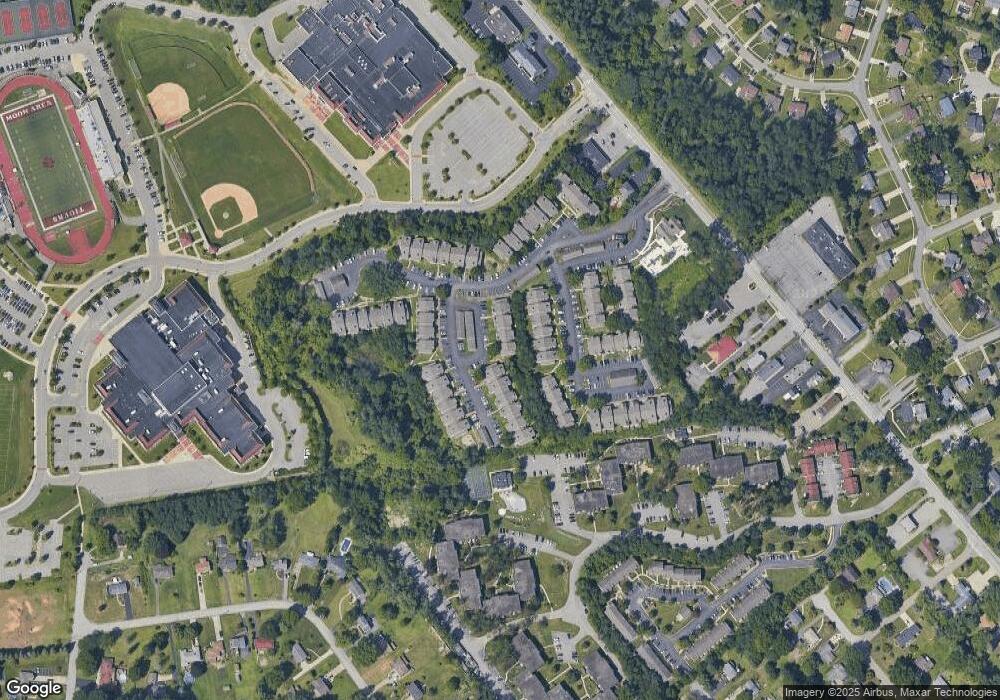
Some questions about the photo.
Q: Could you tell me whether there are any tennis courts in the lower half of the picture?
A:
Yes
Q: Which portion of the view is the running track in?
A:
top left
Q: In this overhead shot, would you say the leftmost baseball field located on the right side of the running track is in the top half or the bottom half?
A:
top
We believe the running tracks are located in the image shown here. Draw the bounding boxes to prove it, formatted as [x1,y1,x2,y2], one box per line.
[0,76,114,263]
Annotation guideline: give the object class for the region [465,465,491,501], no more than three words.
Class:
tennis court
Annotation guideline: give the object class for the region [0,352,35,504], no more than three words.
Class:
sports field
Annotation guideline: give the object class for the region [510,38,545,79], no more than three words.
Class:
building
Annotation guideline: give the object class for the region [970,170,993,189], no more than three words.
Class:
house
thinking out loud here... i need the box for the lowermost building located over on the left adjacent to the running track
[95,280,265,464]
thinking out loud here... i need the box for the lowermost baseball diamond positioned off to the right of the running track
[176,103,316,246]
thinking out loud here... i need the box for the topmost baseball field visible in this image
[129,34,229,130]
